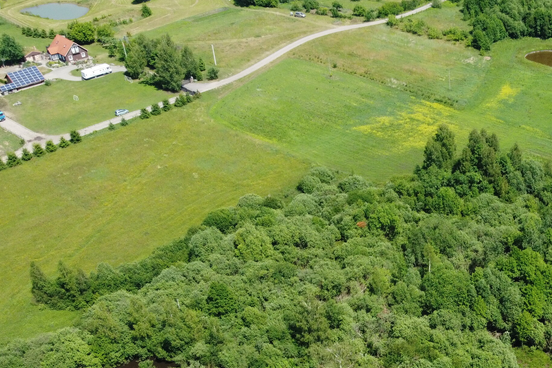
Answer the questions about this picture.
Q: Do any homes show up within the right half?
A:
No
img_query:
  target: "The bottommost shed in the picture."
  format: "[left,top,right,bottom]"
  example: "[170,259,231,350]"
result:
[0,66,47,98]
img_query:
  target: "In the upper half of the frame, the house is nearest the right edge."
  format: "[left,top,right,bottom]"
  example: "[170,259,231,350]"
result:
[41,32,85,62]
